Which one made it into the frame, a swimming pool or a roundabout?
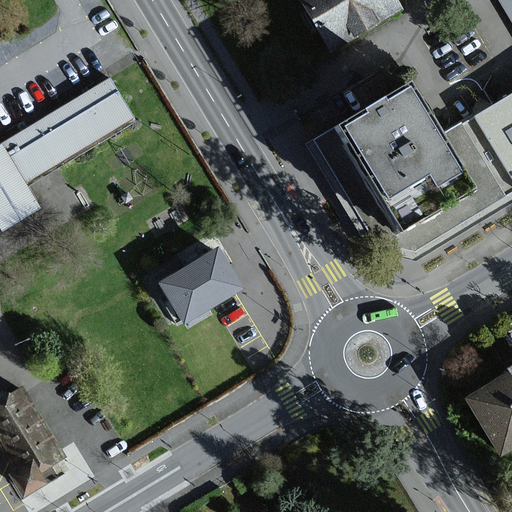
roundabout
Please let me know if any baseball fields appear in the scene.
No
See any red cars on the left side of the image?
Yes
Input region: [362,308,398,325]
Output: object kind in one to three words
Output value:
vehicle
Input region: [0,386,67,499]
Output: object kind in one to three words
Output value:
house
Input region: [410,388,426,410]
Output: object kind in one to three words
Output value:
car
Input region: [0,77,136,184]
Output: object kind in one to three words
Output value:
building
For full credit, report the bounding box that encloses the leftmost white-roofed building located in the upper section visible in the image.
[0,142,41,232]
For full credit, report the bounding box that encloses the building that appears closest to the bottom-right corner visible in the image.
[465,368,512,456]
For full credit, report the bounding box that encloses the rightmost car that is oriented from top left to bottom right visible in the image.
[452,98,470,118]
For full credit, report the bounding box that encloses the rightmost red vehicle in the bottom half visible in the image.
[222,307,244,324]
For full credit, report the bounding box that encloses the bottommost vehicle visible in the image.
[106,439,128,458]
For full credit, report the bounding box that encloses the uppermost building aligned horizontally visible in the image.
[302,0,418,52]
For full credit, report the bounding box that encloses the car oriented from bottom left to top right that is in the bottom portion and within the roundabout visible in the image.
[392,352,415,372]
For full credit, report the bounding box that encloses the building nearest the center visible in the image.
[158,246,244,328]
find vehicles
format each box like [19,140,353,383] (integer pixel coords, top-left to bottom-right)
[86,51,103,72]
[17,90,36,114]
[392,352,415,372]
[72,55,92,78]
[237,327,258,343]
[61,61,80,84]
[4,96,23,119]
[28,82,45,102]
[61,382,82,400]
[458,38,482,56]
[90,10,112,26]
[468,50,488,66]
[217,298,238,314]
[432,42,453,60]
[410,388,426,410]
[98,20,120,36]
[452,98,470,118]
[232,150,250,172]
[343,88,361,112]
[438,52,460,68]
[106,439,128,458]
[294,212,312,236]
[444,63,468,81]
[284,182,301,202]
[42,78,58,100]
[86,407,108,426]
[222,307,244,324]
[70,396,90,414]
[422,32,438,46]
[362,308,398,325]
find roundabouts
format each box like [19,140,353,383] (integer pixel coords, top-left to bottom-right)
[308,294,428,414]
